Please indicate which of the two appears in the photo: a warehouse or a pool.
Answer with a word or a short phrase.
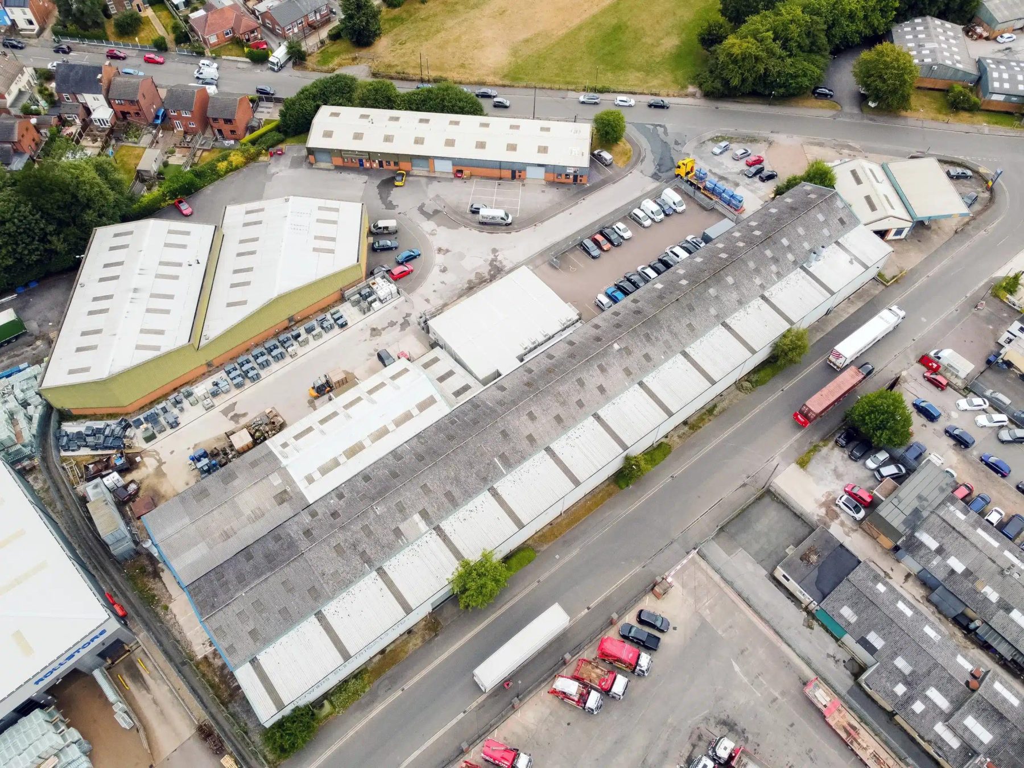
warehouse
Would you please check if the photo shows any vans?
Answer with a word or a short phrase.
Yes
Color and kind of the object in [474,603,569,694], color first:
white trailer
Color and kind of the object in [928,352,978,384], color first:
white van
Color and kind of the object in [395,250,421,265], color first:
blue car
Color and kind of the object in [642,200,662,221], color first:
white vehicle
